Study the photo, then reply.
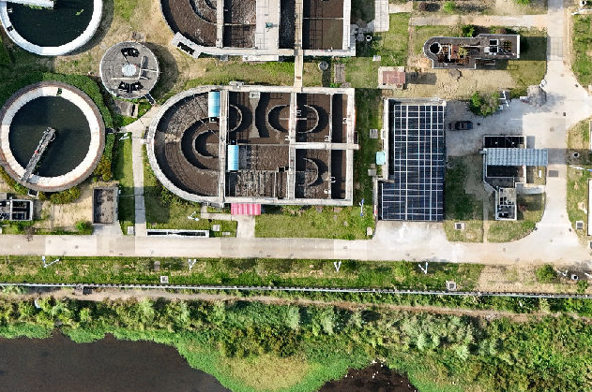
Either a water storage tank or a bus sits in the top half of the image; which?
water storage tank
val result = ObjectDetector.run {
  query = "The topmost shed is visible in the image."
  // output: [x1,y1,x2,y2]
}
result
[379,67,406,89]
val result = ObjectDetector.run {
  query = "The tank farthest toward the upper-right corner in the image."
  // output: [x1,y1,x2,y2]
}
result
[421,33,520,69]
